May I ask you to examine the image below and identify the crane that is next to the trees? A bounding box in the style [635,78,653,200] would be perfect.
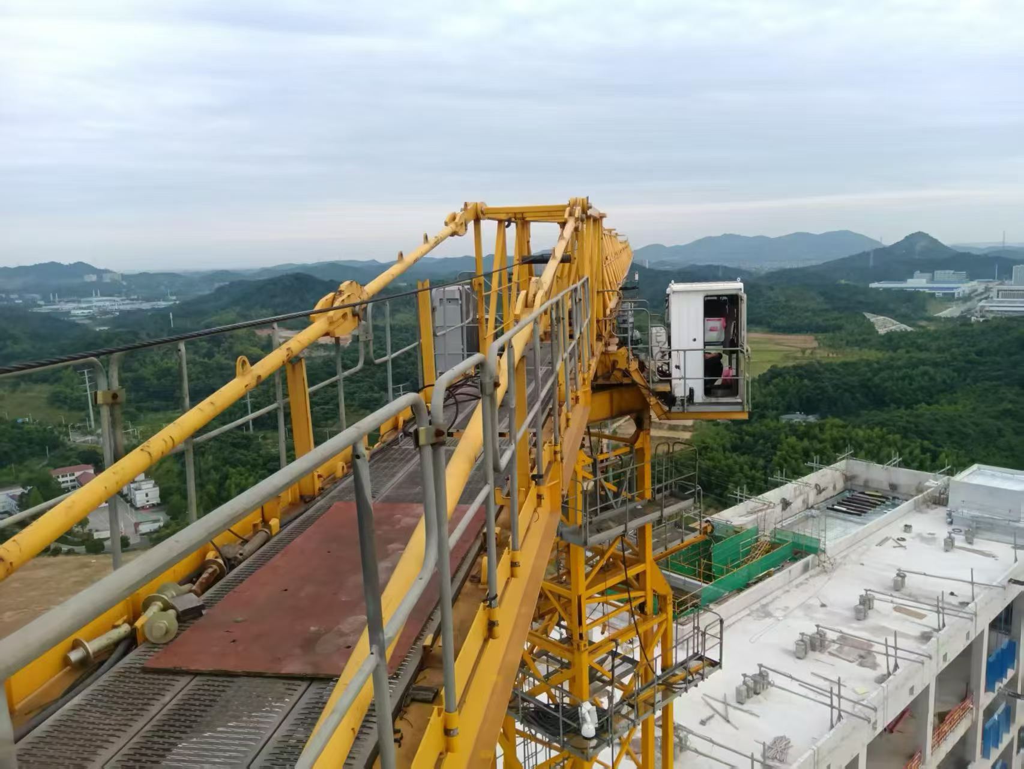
[0,192,755,769]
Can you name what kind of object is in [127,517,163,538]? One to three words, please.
building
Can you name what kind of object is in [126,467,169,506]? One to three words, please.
building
